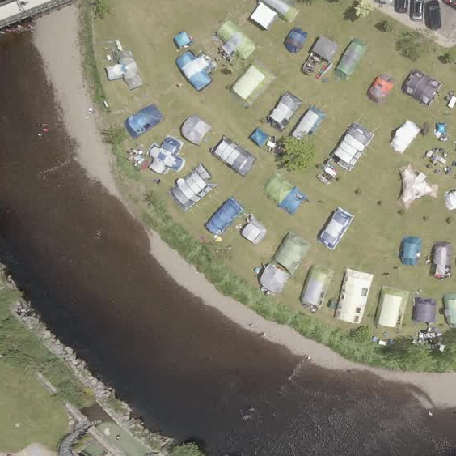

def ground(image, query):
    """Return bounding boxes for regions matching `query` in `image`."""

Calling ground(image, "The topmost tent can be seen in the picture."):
[252,0,304,25]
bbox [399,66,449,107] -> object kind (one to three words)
tent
